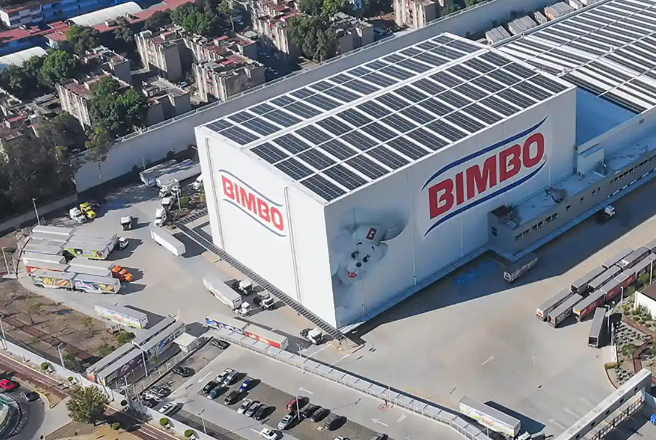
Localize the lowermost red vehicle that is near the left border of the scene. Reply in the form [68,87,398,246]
[0,377,18,393]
